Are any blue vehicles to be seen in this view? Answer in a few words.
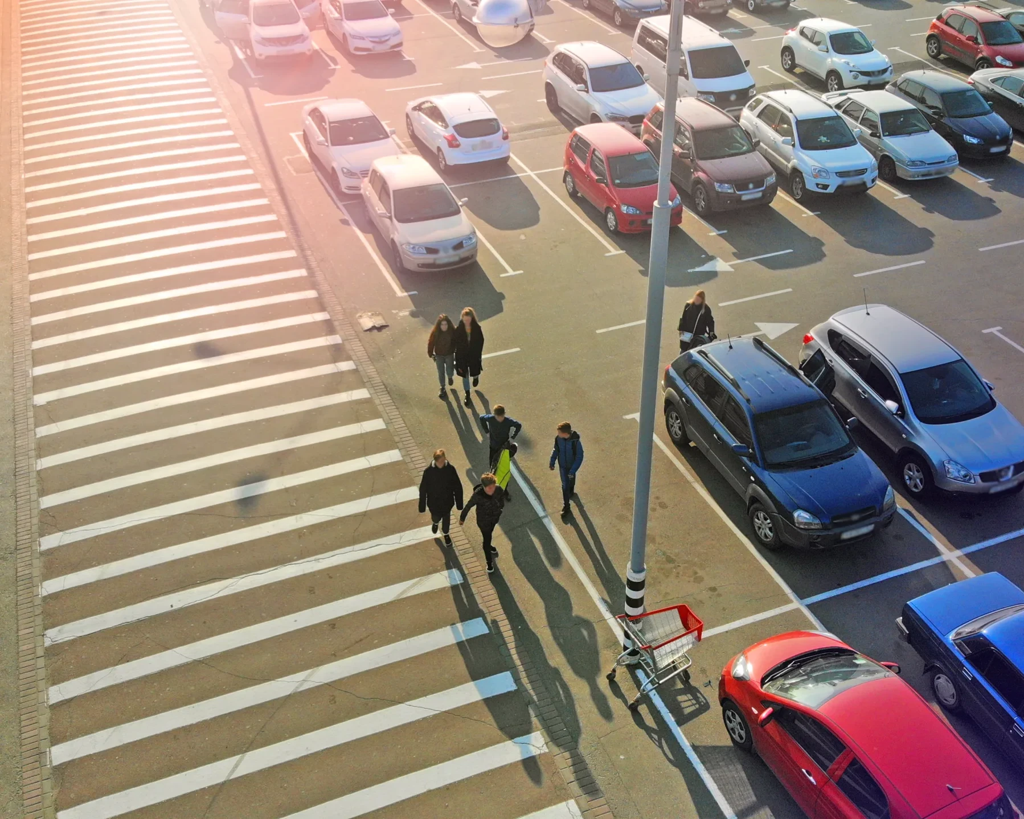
Yes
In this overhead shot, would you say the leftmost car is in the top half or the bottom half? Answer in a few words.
top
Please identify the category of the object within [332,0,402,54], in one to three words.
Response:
car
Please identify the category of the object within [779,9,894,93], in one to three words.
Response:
car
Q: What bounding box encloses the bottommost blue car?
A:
[892,570,1024,770]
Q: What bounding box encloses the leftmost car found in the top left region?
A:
[215,0,337,64]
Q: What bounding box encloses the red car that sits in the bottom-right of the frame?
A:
[721,630,1014,819]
